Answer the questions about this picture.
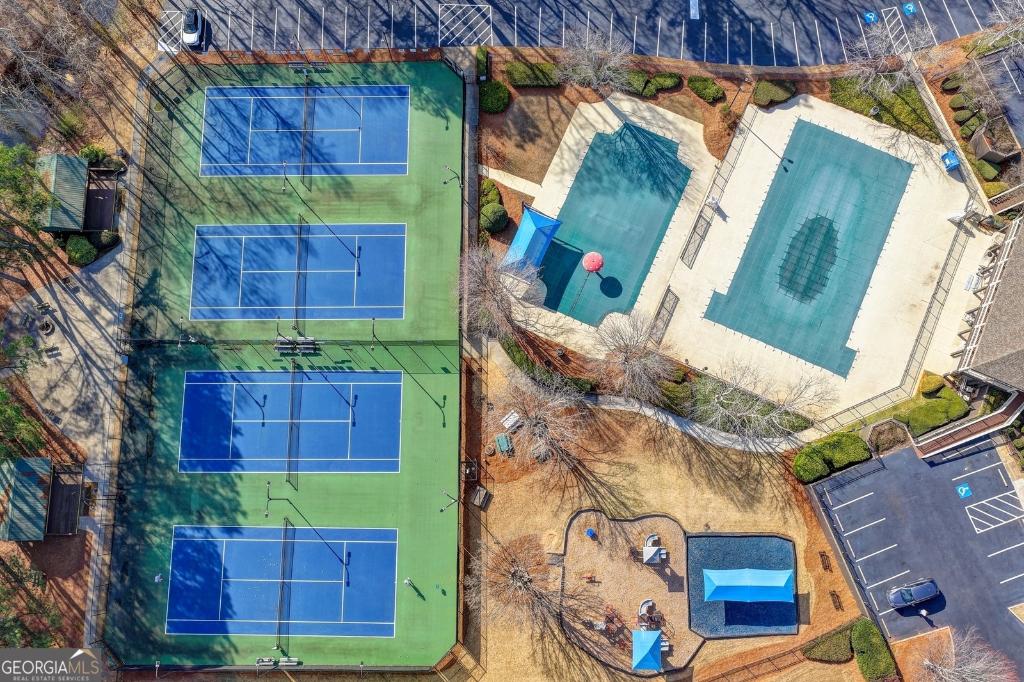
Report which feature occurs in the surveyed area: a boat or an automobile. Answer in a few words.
automobile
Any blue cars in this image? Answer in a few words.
Yes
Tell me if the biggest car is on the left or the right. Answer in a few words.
right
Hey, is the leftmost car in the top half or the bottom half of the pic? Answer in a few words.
top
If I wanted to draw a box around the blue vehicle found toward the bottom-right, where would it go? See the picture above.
[887,578,939,607]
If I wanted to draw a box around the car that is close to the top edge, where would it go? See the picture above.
[181,12,203,49]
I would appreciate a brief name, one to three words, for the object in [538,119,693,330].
swimming pool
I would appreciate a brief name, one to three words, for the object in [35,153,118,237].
building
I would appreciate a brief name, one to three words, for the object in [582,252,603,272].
fountain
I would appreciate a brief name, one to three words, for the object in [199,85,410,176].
tennis court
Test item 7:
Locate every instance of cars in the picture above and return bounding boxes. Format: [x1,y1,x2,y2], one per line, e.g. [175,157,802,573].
[887,578,939,607]
[181,12,203,49]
